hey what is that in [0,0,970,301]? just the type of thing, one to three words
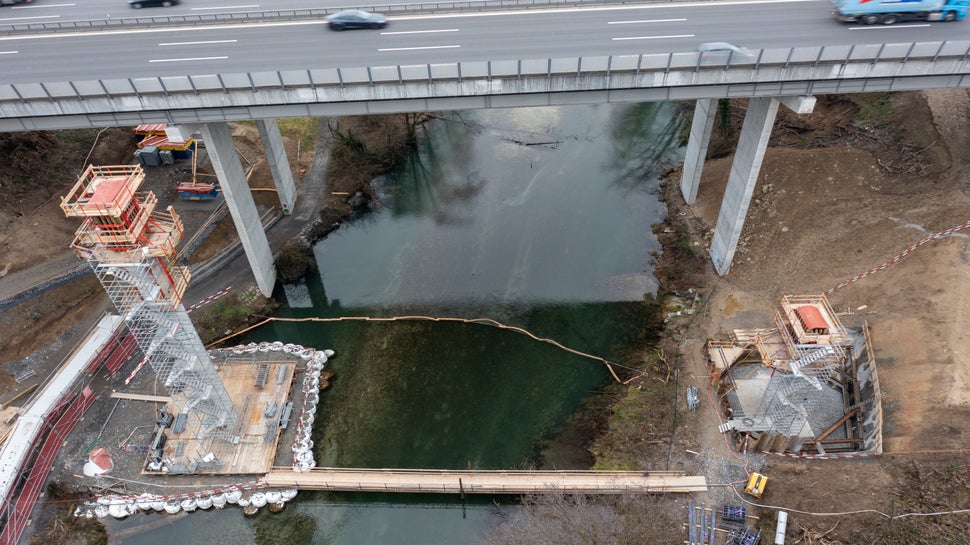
bridge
